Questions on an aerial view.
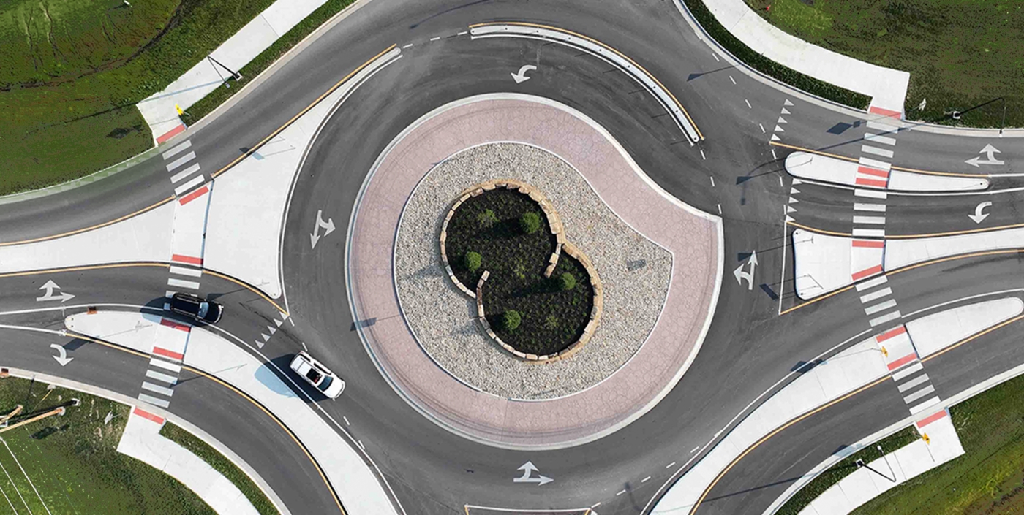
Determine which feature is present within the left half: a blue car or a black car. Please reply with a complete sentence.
Looking within the left half, you will find a black car.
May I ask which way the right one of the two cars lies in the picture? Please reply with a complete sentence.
In this picture, the right one of the two cars is oriented at an angle.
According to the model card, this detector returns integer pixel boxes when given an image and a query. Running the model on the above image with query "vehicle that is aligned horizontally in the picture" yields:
[169,293,223,323]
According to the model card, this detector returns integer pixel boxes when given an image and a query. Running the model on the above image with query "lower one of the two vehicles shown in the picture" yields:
[289,350,344,397]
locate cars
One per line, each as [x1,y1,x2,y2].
[169,293,223,323]
[289,350,344,397]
